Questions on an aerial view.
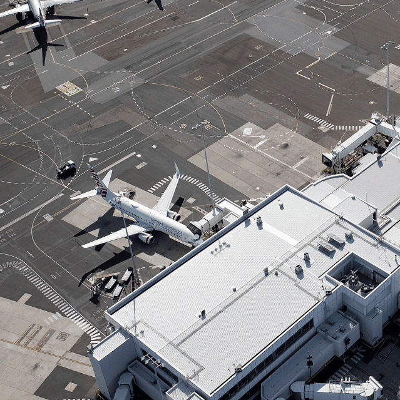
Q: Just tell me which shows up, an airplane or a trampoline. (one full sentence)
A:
The one in the frame is an airplane.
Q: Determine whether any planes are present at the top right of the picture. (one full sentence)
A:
No, no plane is visible at the top right of the picture.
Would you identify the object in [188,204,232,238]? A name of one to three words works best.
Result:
jet bridge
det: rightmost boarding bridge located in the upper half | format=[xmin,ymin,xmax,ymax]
[321,120,400,169]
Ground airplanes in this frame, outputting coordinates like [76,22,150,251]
[72,162,205,249]
[0,0,87,28]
